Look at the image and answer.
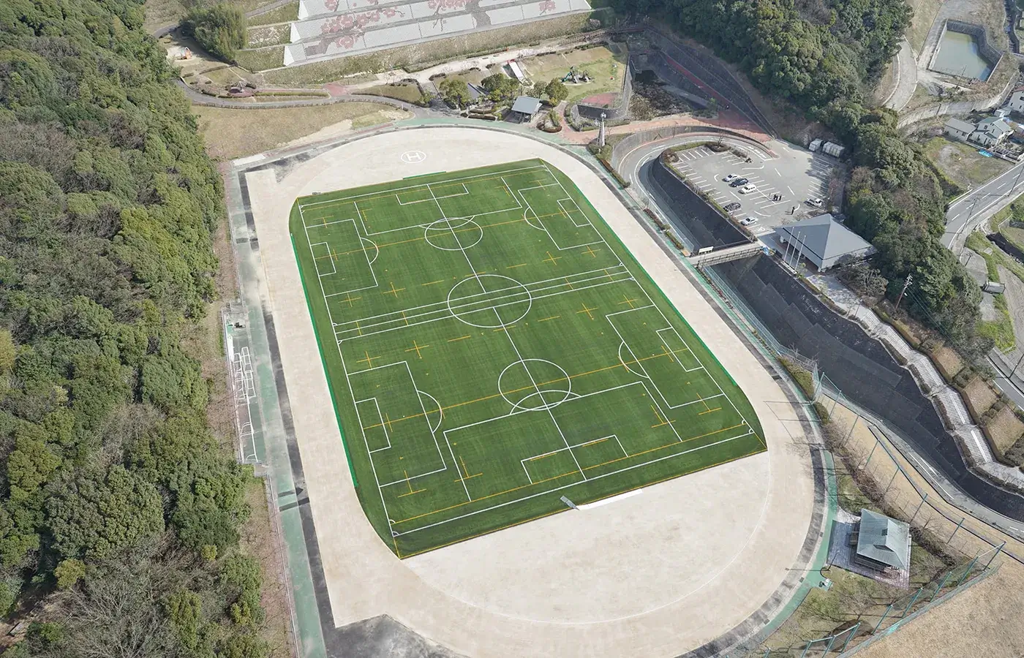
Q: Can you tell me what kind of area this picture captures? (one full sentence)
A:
It's a sports ground.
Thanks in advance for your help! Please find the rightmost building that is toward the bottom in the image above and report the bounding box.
[842,508,910,579]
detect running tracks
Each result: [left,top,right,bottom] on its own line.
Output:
[246,127,815,658]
